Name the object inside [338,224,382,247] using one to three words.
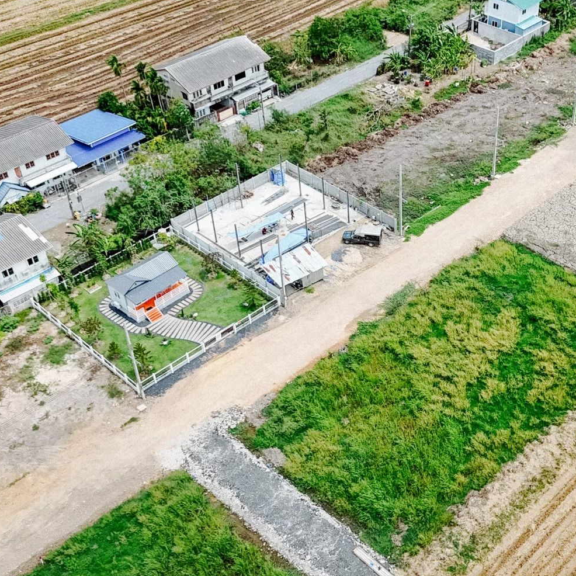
truck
